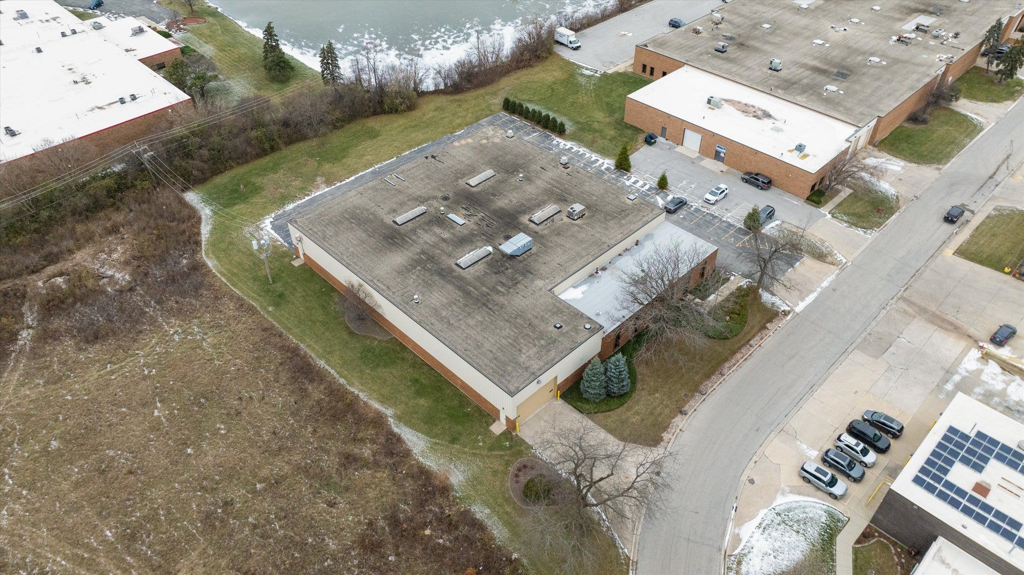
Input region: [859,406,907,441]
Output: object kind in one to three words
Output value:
car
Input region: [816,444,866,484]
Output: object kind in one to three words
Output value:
car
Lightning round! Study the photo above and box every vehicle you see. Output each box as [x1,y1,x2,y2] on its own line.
[842,414,894,455]
[762,203,776,226]
[830,429,879,468]
[664,196,690,215]
[703,182,728,204]
[667,15,684,26]
[739,171,773,190]
[548,21,580,48]
[86,0,106,10]
[816,444,866,484]
[942,206,964,224]
[859,406,907,441]
[988,322,1014,348]
[799,461,850,502]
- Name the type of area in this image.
industrial area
